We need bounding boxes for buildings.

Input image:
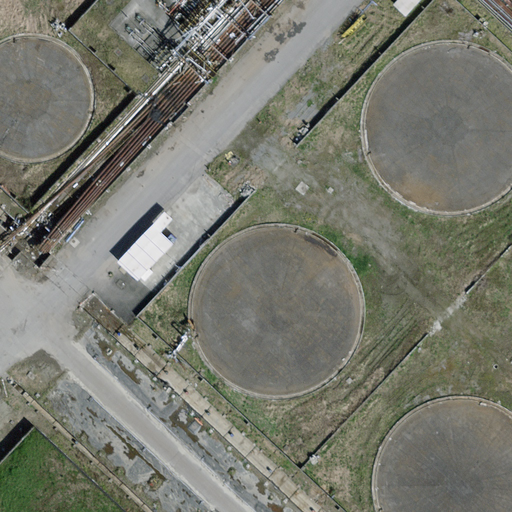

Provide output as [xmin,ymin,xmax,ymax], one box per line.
[116,211,173,284]
[394,0,420,16]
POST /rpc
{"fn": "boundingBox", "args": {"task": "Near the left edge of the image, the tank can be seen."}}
[0,33,94,162]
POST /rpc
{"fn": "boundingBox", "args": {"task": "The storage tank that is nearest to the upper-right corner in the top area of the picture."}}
[362,40,512,214]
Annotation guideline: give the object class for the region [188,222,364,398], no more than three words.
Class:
storage tank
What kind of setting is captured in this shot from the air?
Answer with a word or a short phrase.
industrial area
